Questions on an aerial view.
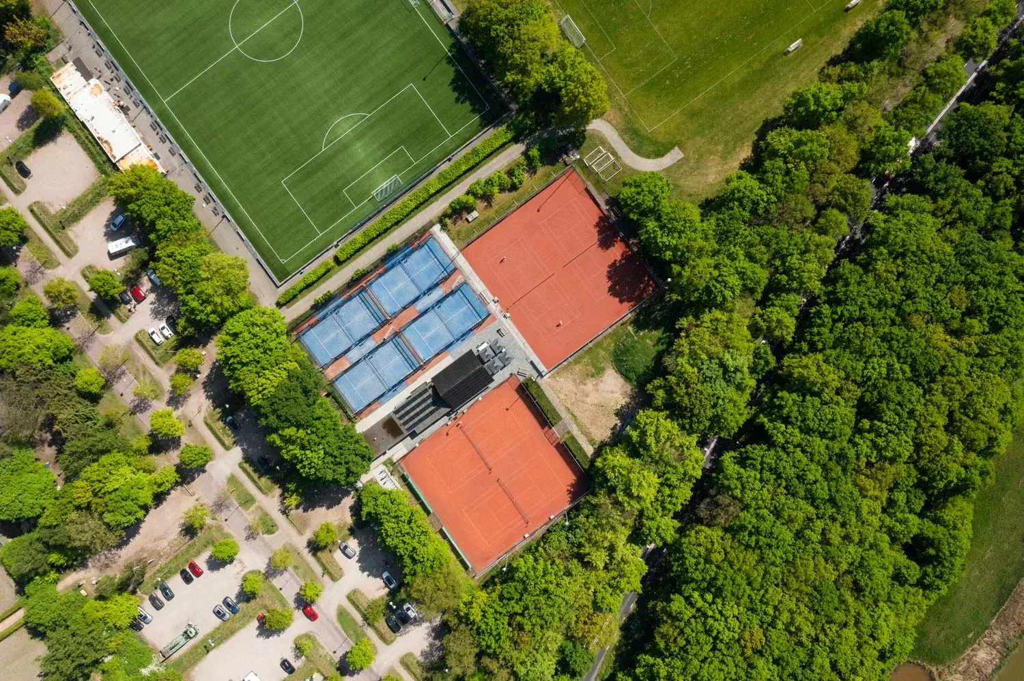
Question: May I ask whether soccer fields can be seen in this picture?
Yes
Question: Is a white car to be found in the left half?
Yes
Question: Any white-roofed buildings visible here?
Yes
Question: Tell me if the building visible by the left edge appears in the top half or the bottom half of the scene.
top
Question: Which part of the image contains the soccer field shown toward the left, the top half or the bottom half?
top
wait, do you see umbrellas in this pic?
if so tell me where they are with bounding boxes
[488,336,507,354]
[497,347,516,366]
[486,356,505,374]
[477,345,496,363]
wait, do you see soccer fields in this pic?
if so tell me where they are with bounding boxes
[554,0,831,132]
[69,0,509,286]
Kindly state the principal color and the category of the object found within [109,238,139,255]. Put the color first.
white vehicle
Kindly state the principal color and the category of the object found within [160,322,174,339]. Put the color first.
white car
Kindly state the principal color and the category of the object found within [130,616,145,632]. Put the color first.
black car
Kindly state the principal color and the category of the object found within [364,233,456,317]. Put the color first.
blue sports court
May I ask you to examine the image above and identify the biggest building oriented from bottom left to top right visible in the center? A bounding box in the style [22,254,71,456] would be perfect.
[364,350,494,457]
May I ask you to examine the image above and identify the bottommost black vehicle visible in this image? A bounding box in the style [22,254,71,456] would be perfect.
[280,658,295,676]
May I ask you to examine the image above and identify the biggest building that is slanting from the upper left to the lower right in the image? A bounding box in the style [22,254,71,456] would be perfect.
[50,53,174,191]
